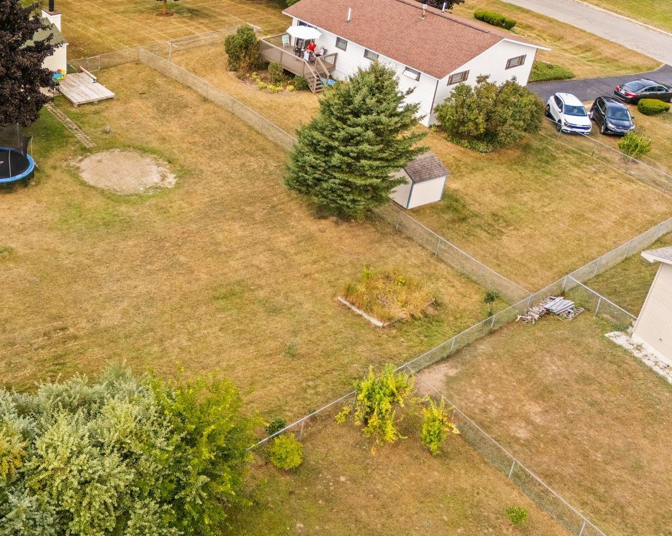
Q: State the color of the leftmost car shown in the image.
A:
white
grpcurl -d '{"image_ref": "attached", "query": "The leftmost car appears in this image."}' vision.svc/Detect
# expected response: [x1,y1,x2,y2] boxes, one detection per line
[548,91,592,132]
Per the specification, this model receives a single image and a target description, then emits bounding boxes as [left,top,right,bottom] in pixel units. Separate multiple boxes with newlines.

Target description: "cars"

[591,90,637,132]
[548,91,592,132]
[618,78,672,106]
